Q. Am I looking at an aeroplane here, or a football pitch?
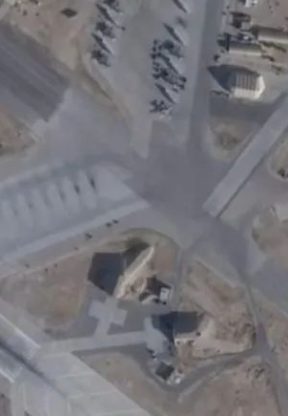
aeroplane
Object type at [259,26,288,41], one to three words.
shed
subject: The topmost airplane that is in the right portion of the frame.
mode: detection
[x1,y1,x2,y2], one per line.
[165,40,183,57]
